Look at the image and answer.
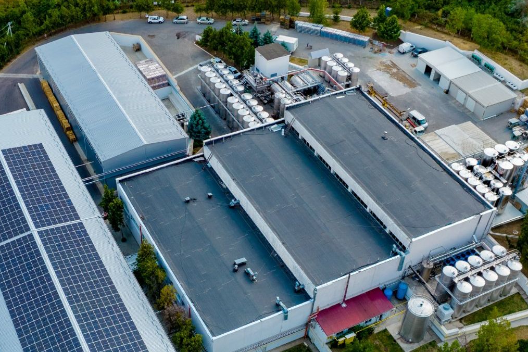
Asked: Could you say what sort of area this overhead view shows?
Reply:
industrial area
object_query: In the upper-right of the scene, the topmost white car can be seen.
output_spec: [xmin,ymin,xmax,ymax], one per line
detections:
[397,40,419,52]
